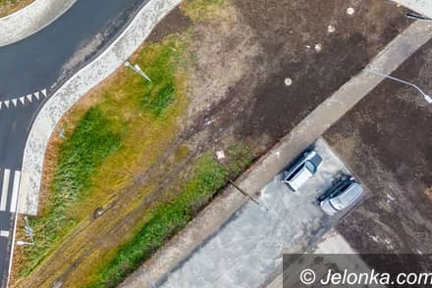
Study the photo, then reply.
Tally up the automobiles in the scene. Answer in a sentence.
The count of automobiles comes to 2.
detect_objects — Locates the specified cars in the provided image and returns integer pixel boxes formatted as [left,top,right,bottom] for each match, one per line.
[278,152,320,195]
[317,173,363,213]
